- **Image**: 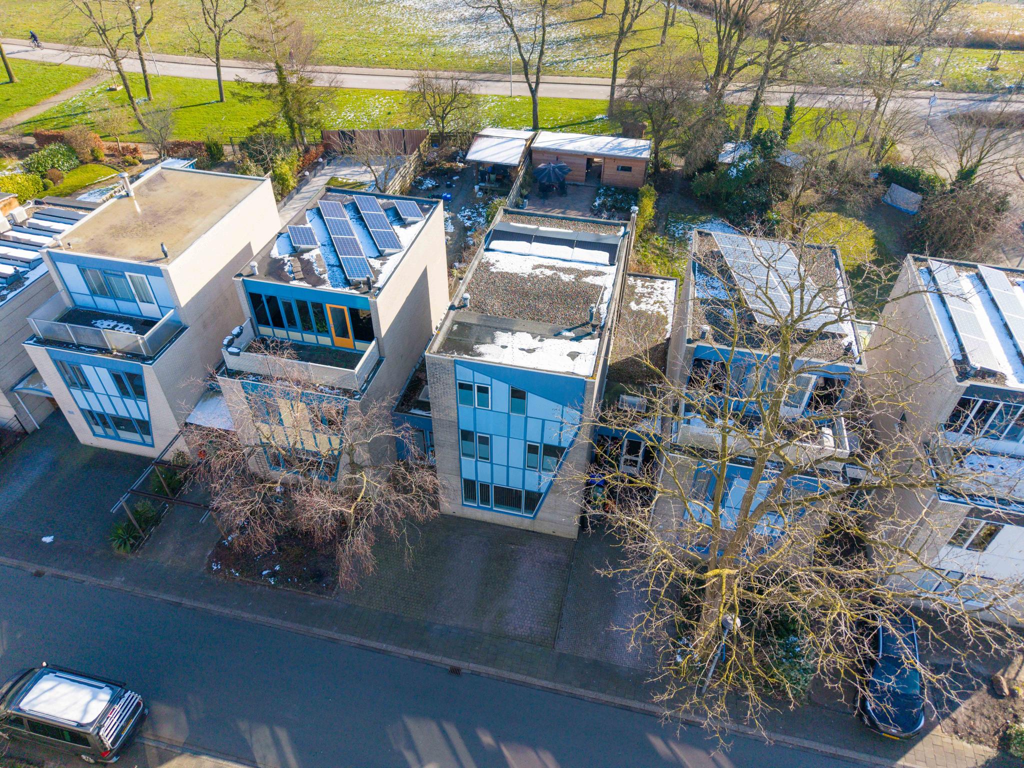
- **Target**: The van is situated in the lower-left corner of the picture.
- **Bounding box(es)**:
[0,660,154,765]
